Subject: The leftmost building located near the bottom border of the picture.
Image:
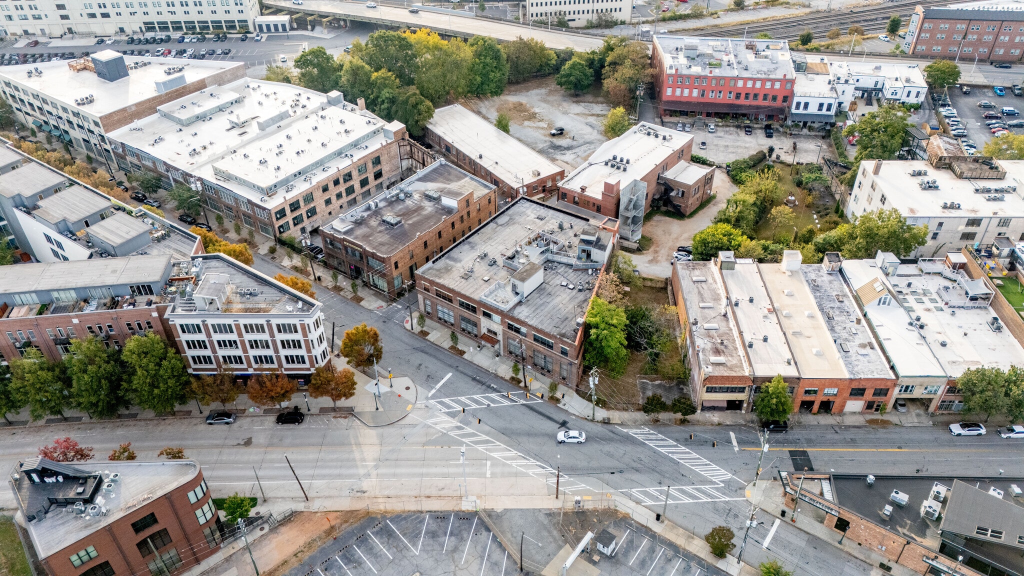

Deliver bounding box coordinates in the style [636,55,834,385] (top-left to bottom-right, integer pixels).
[8,456,229,576]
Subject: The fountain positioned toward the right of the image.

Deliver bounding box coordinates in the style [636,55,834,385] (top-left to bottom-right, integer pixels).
[776,189,804,208]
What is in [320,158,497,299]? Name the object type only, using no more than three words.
warehouse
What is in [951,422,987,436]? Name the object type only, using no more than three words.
car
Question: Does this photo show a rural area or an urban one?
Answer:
urban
